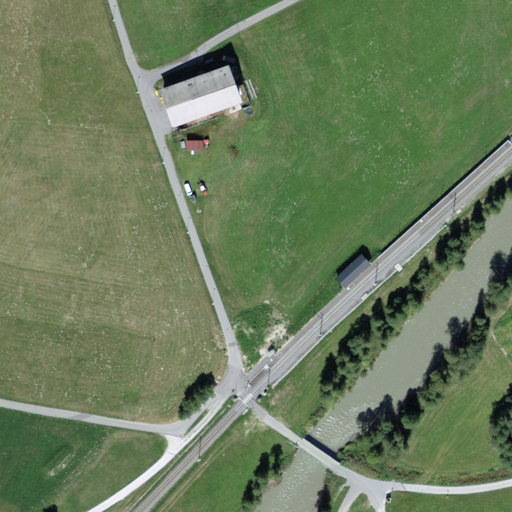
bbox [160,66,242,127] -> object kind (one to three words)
barn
